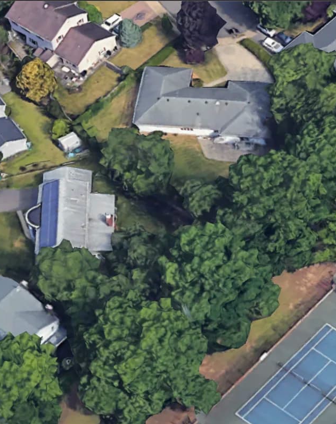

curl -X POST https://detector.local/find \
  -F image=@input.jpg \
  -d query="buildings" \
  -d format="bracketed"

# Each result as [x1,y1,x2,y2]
[16,166,115,262]
[57,134,80,156]
[290,16,336,61]
[0,274,66,345]
[5,0,119,76]
[134,67,269,145]
[0,97,27,164]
